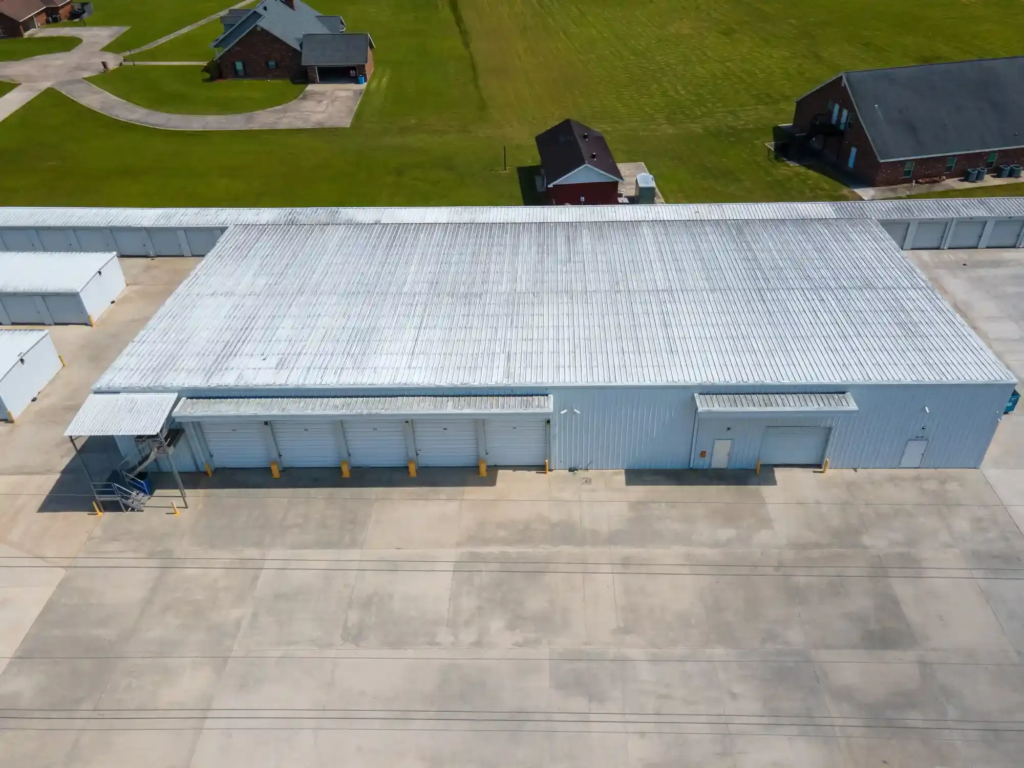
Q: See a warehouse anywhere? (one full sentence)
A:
Yes, the photo shows a warehouse.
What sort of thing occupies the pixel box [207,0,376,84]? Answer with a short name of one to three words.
house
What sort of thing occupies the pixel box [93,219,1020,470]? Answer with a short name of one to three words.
warehouse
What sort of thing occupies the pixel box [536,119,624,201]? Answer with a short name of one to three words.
shed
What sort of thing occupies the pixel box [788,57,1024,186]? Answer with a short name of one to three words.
building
